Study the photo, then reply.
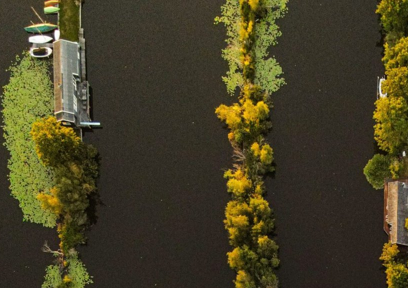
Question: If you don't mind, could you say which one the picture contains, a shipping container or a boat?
boat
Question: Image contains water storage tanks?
No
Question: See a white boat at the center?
No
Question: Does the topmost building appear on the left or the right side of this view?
left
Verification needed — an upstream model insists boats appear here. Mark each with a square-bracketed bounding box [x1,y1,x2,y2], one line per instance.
[25,18,53,44]
[44,0,60,6]
[378,77,386,99]
[44,6,60,14]
[24,8,57,32]
[29,47,52,57]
